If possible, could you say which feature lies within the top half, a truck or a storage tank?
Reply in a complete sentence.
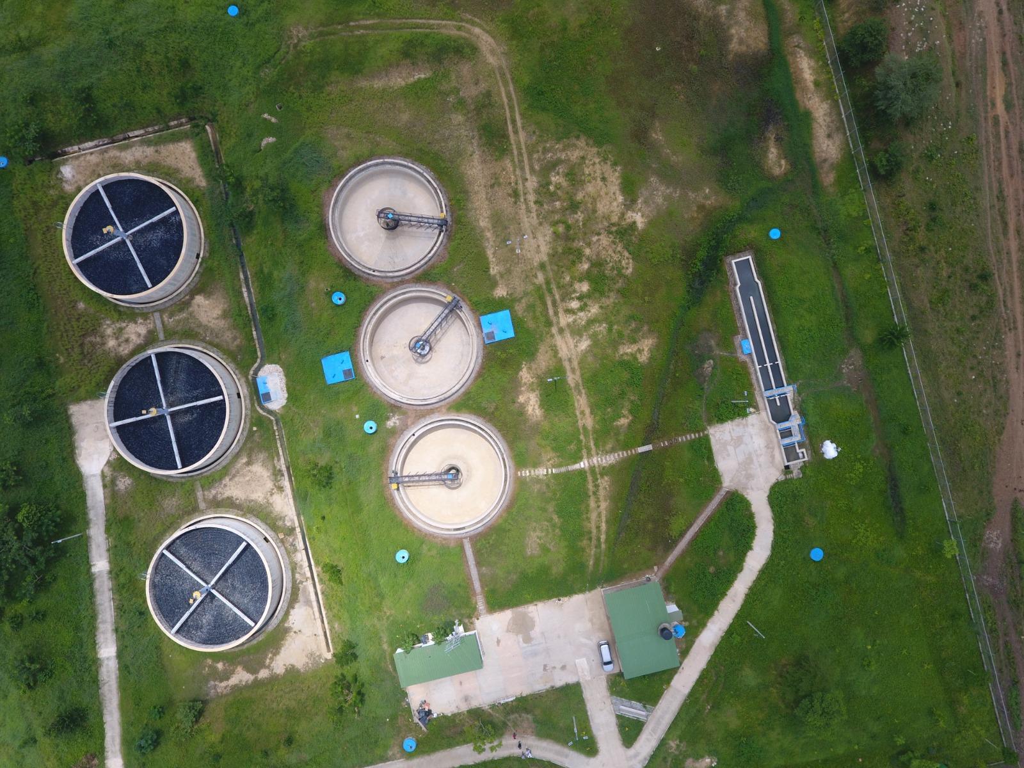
The feature located within the top half is a storage tank.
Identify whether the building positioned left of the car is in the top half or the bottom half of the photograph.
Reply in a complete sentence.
It is in the bottom half that the building positioned left of the car appears.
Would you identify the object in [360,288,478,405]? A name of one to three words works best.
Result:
storage tank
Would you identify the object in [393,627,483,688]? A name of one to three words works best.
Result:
building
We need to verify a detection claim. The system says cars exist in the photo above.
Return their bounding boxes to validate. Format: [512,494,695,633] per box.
[597,638,616,673]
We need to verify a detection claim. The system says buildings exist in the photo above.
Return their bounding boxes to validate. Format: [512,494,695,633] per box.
[393,627,483,688]
[605,581,680,680]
